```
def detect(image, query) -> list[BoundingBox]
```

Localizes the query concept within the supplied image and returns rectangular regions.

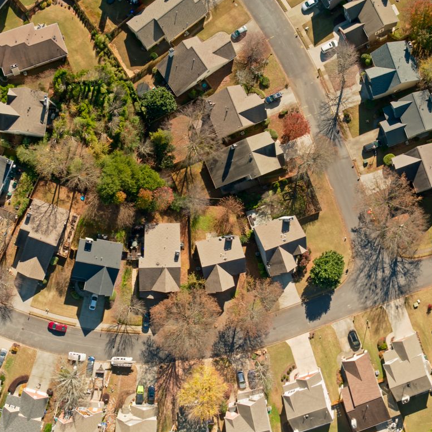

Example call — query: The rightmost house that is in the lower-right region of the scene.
[382,332,432,404]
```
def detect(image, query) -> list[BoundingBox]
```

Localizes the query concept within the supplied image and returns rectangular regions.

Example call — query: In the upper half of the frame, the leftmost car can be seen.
[230,25,248,39]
